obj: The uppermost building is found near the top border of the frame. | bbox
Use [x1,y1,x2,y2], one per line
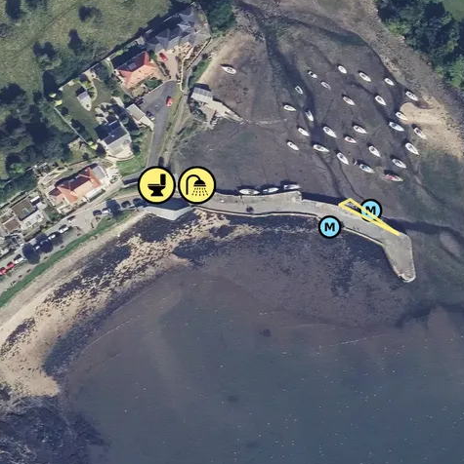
[157,6,216,64]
